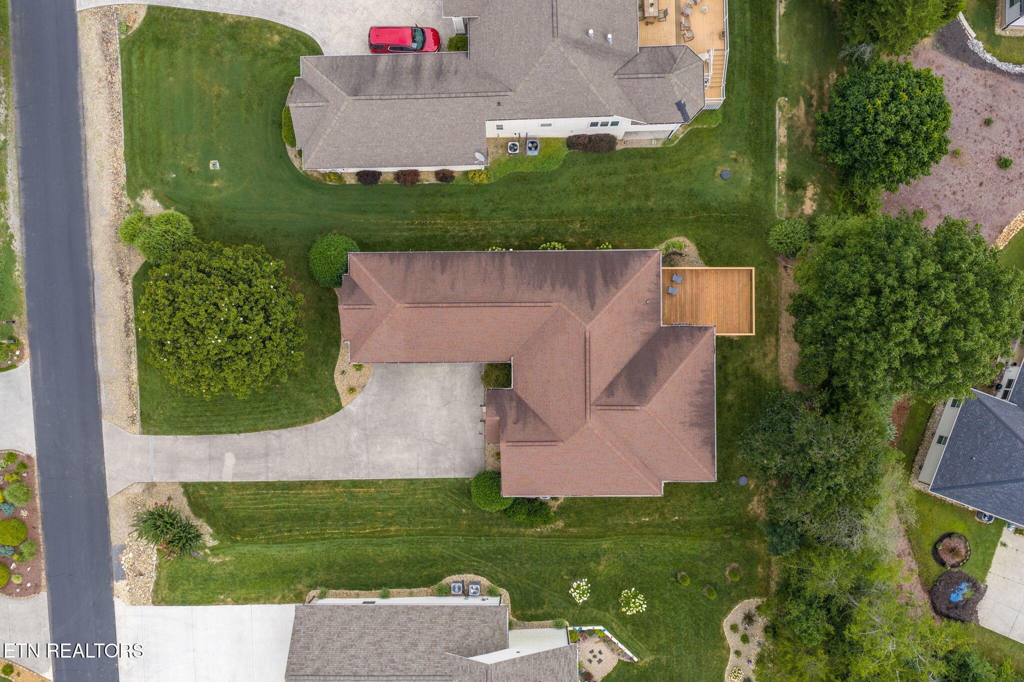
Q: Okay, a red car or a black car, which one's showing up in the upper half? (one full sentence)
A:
The one visible in the upper half is a red car.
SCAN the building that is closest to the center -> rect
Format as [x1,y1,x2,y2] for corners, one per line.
[338,248,718,499]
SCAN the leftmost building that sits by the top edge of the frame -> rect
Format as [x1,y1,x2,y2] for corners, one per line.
[289,0,707,176]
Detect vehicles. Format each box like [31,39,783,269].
[370,21,441,55]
